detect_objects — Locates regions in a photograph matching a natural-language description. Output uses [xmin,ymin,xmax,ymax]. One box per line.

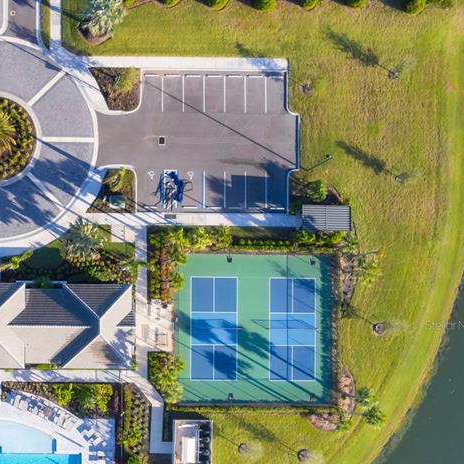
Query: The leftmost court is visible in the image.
[177,254,254,405]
